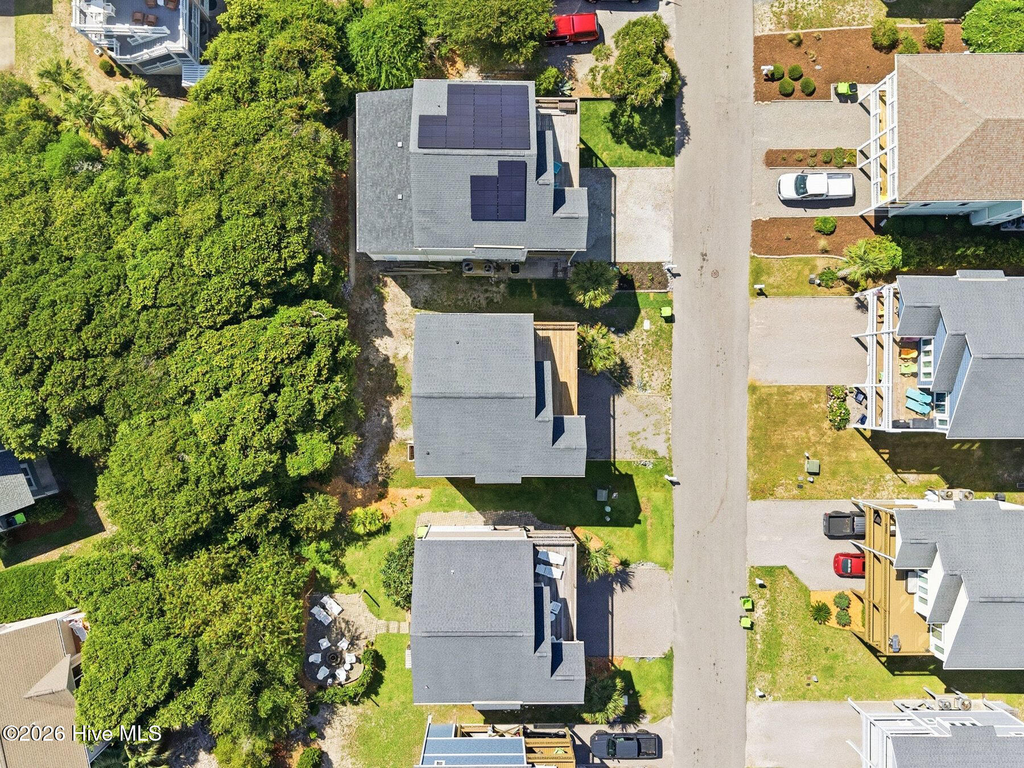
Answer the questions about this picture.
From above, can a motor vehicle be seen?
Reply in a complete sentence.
Yes, a motor vehicle can be made out from above.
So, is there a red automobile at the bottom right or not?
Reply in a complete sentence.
Yes, a red automobile appears at the bottom right.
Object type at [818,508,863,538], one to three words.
truck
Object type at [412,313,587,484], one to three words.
house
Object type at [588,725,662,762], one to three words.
truck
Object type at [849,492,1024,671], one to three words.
house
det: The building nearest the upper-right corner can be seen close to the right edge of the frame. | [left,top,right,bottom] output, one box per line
[856,53,1024,228]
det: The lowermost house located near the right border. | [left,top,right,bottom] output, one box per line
[846,695,1024,768]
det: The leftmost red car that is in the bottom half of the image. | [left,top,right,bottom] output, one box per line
[826,550,863,576]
